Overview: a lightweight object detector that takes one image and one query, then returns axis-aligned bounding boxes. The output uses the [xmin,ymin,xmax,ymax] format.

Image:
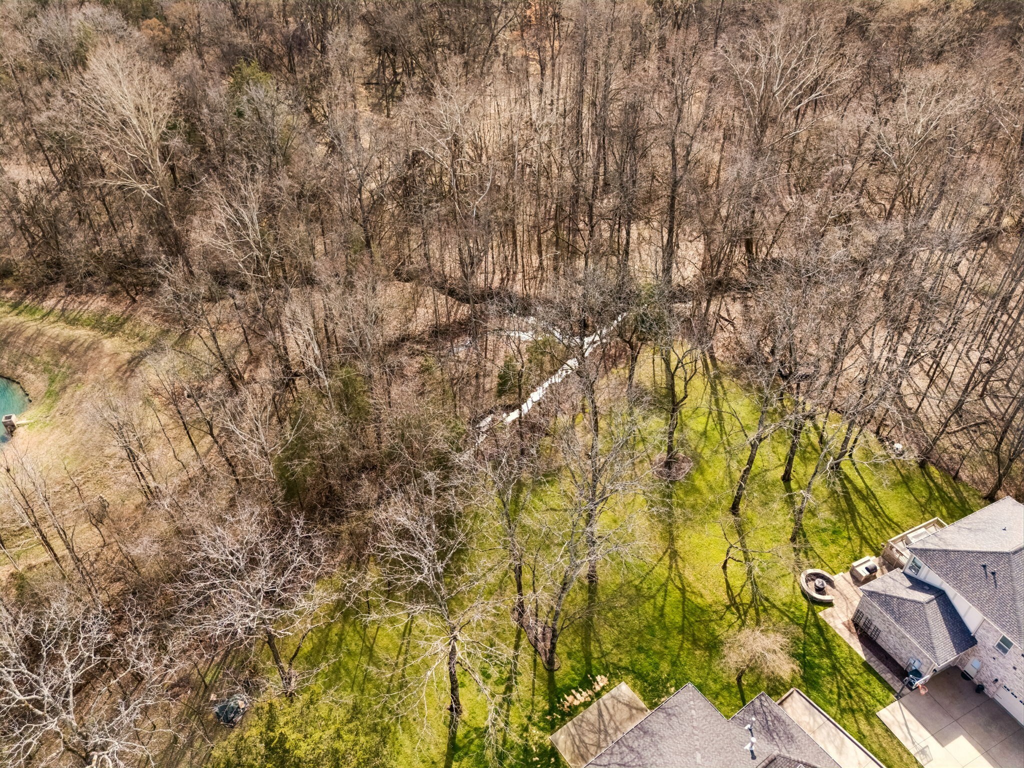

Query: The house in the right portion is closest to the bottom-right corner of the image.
[854,495,1024,727]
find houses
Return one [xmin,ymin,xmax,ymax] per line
[579,681,832,768]
[854,495,1024,727]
